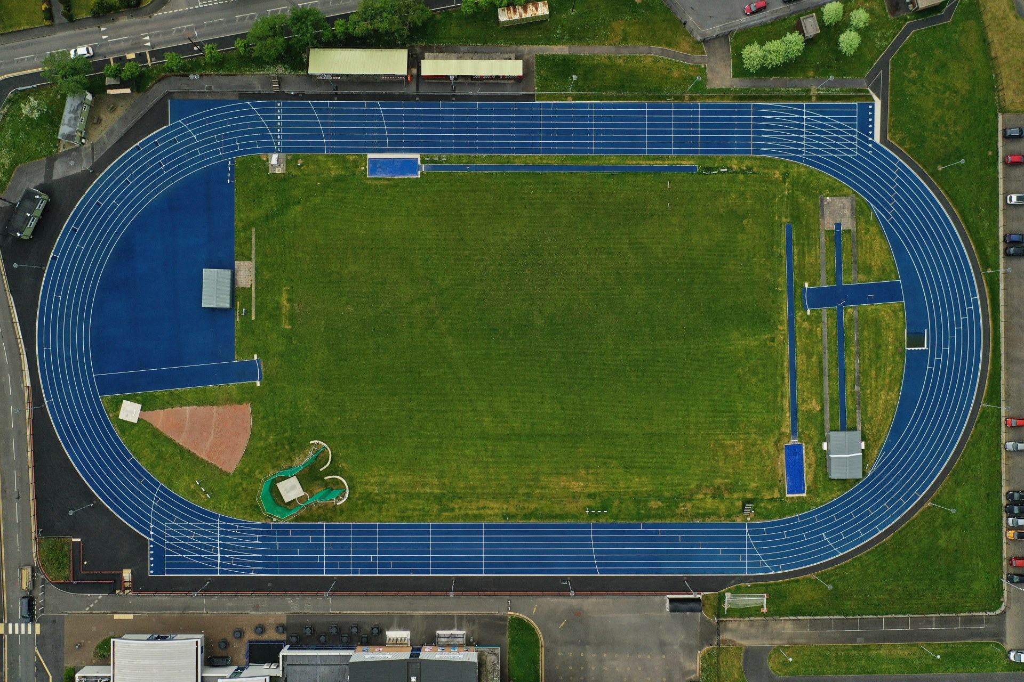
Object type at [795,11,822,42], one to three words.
shed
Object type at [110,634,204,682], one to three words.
building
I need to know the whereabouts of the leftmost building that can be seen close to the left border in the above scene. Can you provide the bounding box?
[5,187,51,239]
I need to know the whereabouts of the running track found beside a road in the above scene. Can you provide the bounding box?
[36,99,984,577]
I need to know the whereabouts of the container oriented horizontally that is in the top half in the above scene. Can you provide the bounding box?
[498,0,549,27]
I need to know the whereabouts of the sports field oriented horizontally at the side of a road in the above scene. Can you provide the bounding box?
[100,154,906,523]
